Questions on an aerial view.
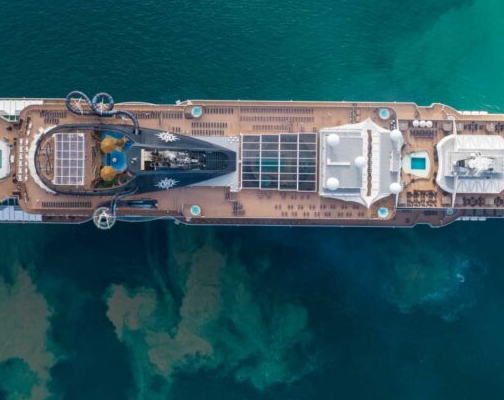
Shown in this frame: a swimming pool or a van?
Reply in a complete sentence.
Of the two, only a swimming pool appears.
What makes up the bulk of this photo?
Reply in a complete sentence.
The bulk of the photo consists of water.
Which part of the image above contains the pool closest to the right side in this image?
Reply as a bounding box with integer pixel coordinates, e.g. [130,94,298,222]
[404,149,431,179]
